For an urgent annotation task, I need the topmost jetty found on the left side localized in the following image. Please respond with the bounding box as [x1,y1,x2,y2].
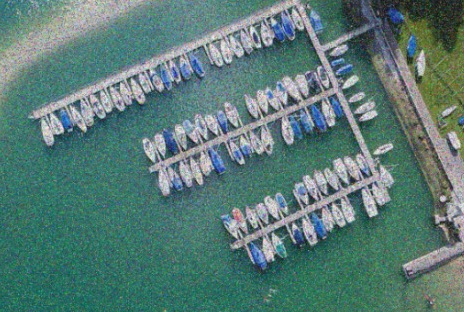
[31,0,299,126]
